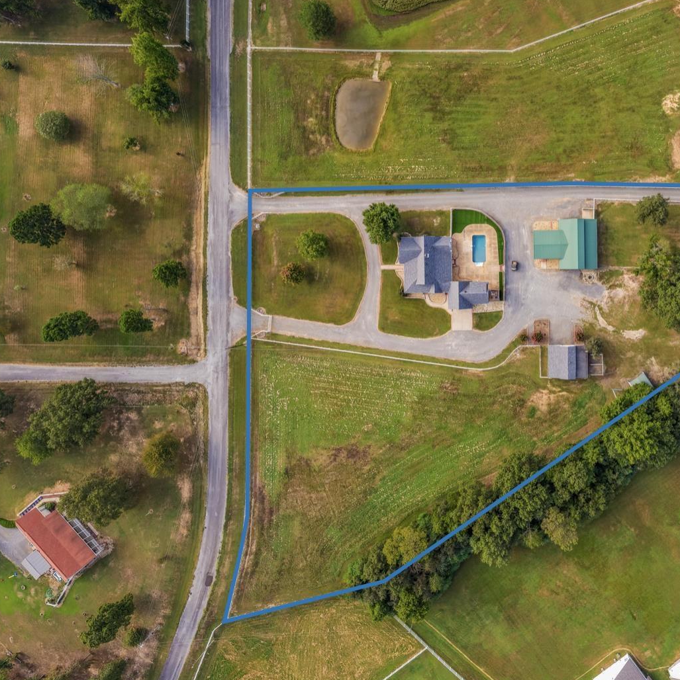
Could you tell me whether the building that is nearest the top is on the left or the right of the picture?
right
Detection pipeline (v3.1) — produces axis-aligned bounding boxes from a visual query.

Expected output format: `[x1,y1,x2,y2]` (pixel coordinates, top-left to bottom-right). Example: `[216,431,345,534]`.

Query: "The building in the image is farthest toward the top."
[533,218,598,270]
